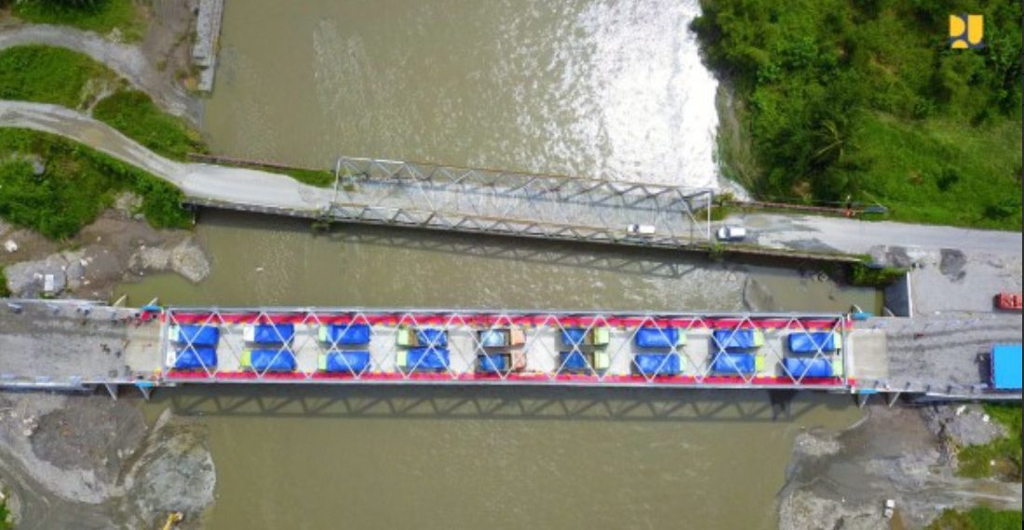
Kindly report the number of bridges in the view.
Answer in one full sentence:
The photo contains 2 bridges.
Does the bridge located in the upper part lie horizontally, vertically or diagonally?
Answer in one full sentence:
In this picture, the bridge located in the upper part is oriented horizontally.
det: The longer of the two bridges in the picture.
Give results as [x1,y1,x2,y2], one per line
[152,307,858,405]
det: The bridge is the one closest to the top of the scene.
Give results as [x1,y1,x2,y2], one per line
[327,156,716,259]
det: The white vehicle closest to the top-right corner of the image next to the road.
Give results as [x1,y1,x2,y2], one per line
[719,225,747,240]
